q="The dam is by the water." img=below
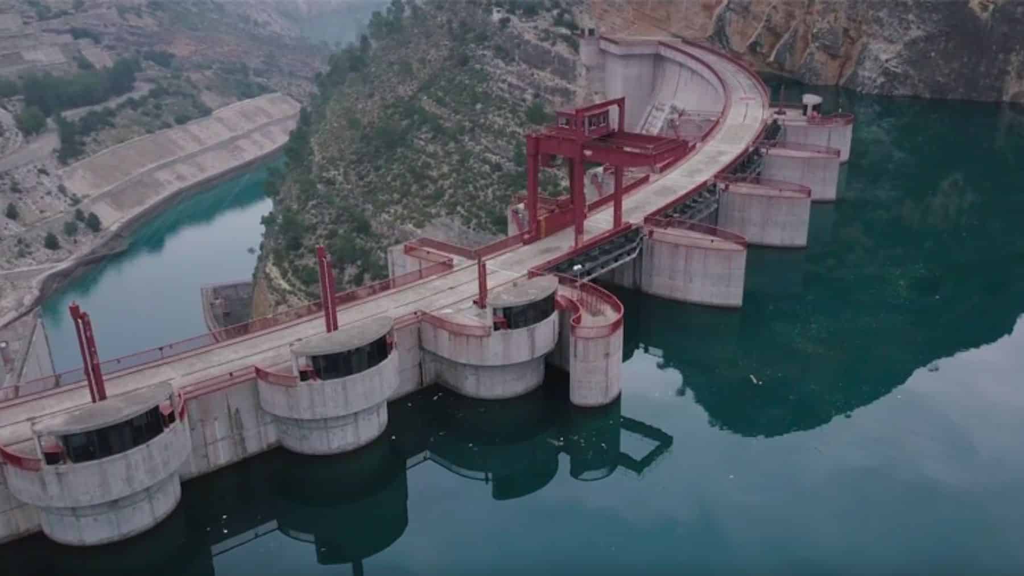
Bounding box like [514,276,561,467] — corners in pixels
[0,40,771,555]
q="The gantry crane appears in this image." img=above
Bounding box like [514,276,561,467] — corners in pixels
[524,92,702,248]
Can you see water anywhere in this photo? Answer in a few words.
Yes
